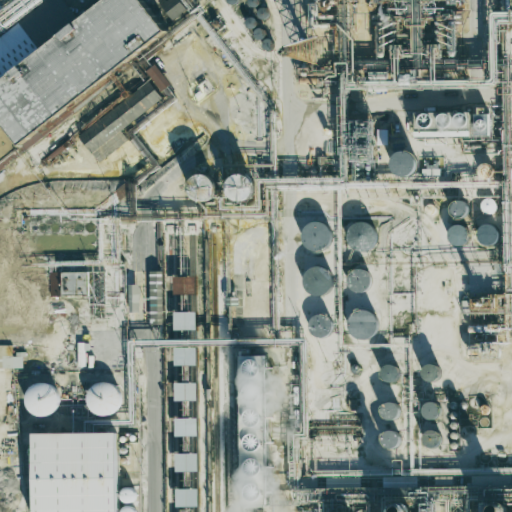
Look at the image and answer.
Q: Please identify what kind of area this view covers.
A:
industrial area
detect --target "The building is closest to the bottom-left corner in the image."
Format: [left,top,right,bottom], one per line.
[29,434,120,512]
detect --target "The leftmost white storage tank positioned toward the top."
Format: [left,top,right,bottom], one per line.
[186,172,217,204]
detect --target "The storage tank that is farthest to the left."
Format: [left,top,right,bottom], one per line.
[23,381,62,420]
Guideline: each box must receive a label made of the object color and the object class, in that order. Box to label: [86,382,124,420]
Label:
white storage tank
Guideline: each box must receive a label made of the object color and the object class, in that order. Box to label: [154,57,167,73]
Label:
white vehicle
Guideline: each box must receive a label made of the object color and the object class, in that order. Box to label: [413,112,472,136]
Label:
white cooling tower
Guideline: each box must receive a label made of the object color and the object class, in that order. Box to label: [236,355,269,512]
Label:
white cooling tower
